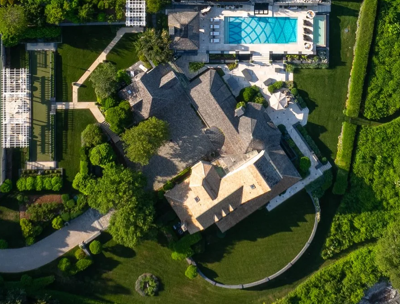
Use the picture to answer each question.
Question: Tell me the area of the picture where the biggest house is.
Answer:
center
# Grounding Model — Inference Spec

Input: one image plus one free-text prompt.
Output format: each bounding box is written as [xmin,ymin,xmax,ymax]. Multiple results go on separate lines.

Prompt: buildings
[167,12,199,50]
[118,59,302,248]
